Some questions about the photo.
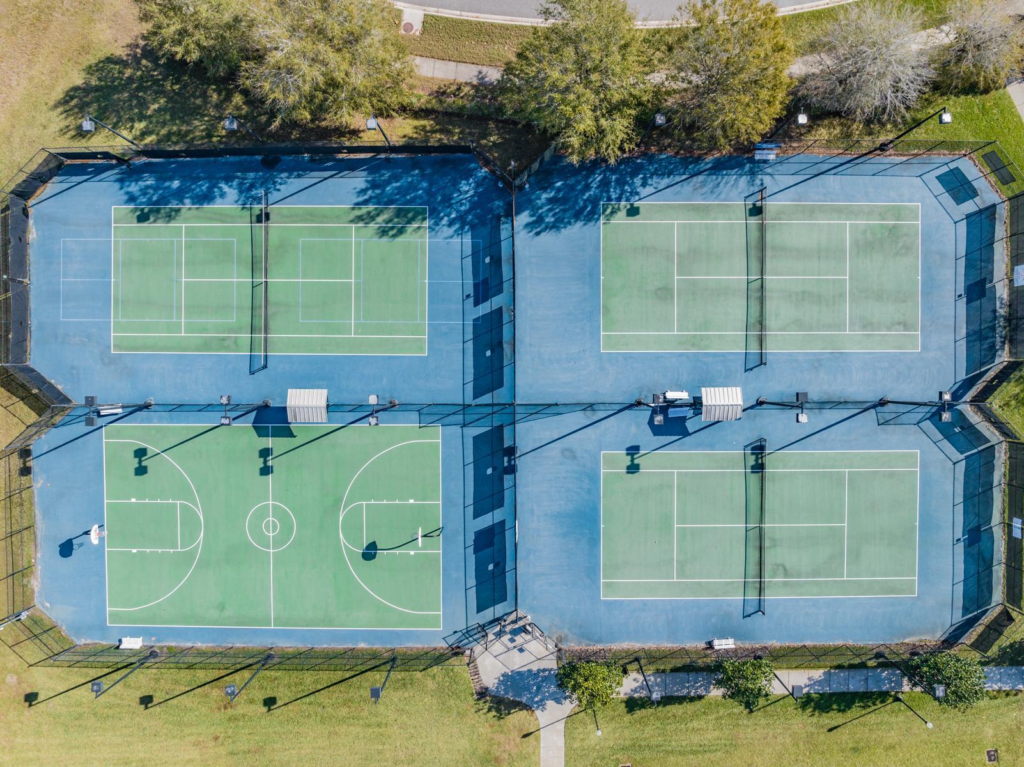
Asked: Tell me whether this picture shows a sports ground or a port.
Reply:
sports ground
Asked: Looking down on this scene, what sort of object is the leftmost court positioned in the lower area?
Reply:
basketball court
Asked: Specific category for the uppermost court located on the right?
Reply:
tennis court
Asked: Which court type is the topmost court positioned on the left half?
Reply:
tennis court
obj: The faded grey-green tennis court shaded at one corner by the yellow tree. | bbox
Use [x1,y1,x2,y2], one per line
[514,155,1004,404]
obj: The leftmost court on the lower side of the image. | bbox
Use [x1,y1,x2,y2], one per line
[34,404,515,646]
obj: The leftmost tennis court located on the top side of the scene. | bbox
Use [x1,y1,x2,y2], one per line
[31,156,514,404]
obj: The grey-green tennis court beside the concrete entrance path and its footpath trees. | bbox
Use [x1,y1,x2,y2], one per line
[514,404,1002,645]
